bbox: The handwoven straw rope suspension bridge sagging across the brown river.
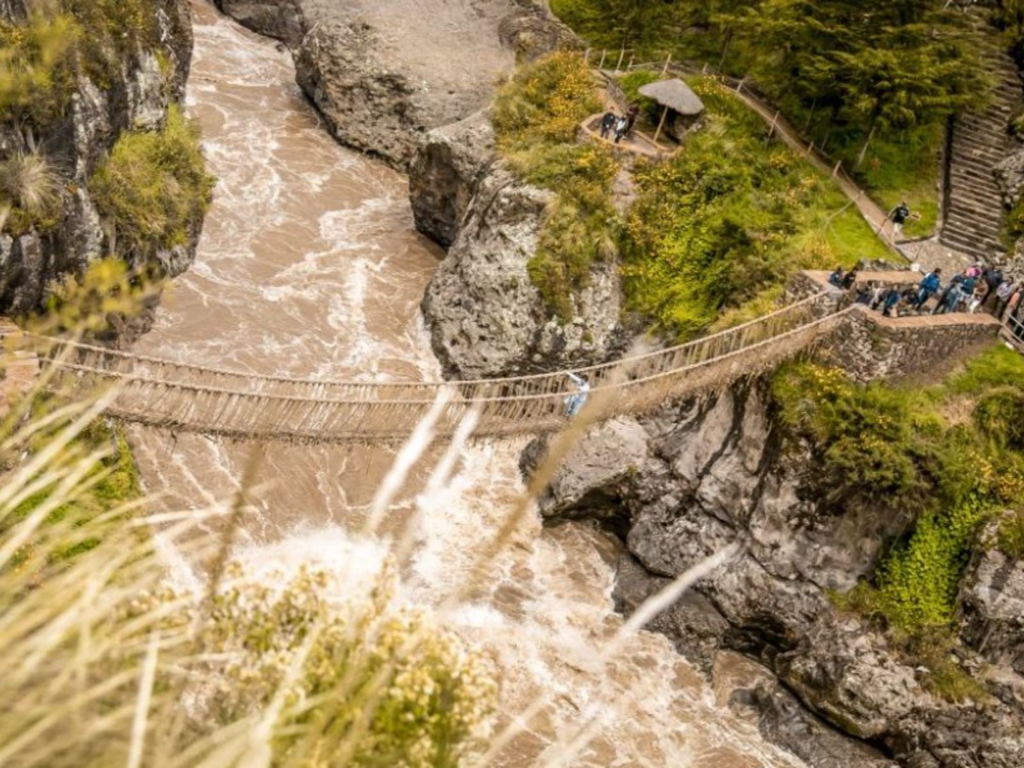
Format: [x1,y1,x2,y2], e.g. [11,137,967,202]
[21,286,863,463]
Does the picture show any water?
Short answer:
Yes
